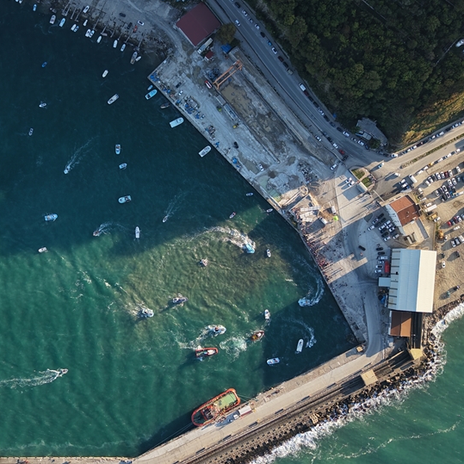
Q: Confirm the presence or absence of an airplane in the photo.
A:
No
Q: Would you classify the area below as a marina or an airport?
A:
marina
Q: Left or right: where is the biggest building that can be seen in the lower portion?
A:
right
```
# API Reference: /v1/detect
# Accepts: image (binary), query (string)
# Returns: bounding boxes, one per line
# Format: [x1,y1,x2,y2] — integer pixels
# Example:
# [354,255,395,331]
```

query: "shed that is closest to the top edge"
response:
[175,2,219,49]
